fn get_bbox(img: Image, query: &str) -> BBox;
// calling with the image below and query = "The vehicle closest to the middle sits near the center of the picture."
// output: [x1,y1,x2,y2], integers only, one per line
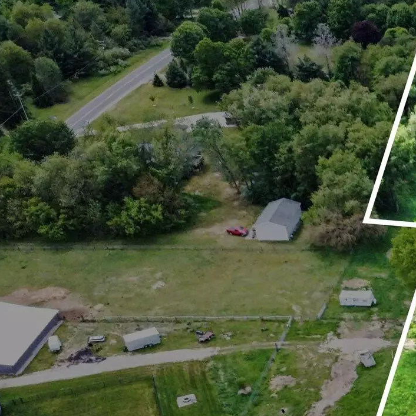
[222,224,251,237]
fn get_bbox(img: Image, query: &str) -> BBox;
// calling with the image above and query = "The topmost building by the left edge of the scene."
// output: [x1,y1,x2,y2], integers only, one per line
[0,301,72,380]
